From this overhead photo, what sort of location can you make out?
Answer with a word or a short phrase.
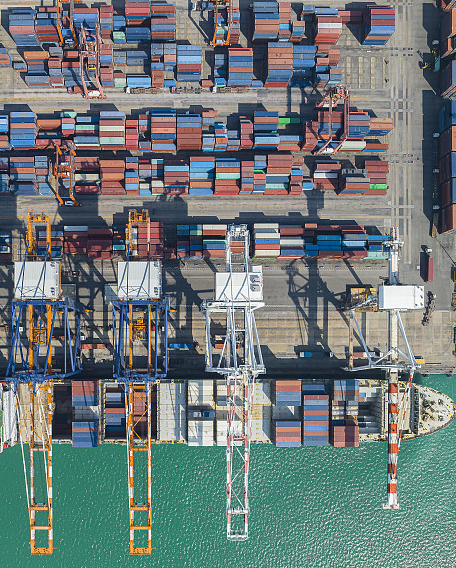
port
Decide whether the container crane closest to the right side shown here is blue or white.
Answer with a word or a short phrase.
white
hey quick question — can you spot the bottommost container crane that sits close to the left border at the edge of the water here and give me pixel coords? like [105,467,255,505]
[6,210,93,555]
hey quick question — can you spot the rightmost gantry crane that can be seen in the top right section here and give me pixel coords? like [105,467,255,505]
[315,88,349,155]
